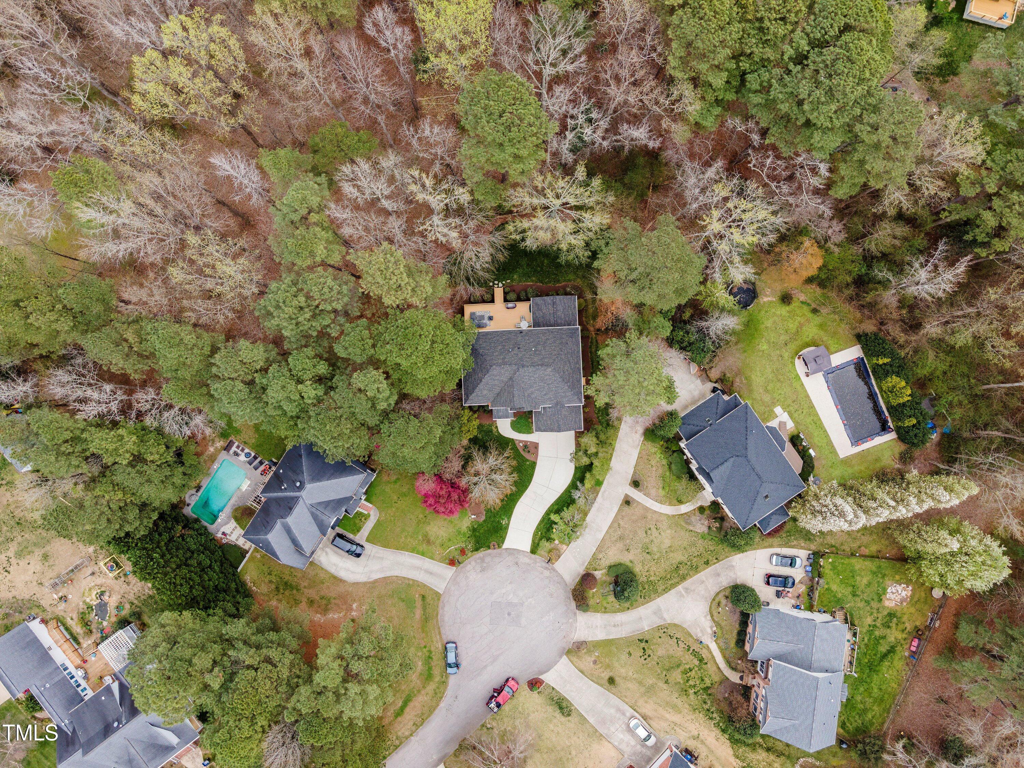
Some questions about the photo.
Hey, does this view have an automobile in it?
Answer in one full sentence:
Yes, there's an automobile down there.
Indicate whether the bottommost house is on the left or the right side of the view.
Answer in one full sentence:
You can find the bottommost house on the right side of the picture.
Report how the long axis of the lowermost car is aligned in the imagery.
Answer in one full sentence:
In this picture, the lowermost car lies at an angle.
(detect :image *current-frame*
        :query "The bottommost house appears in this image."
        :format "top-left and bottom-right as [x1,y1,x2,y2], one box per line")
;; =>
[638,734,701,768]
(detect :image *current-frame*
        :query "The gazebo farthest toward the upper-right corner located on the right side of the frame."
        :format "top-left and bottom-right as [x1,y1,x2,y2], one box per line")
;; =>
[796,346,832,375]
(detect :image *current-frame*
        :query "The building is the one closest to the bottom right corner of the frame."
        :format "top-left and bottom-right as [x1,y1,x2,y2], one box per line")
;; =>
[738,599,852,753]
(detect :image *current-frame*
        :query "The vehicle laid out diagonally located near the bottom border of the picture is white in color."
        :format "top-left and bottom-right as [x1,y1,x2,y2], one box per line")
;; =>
[626,717,655,748]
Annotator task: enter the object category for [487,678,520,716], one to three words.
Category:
truck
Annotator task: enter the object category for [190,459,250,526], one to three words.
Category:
swimming pool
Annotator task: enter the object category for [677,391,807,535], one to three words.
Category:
house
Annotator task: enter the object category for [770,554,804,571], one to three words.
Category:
car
